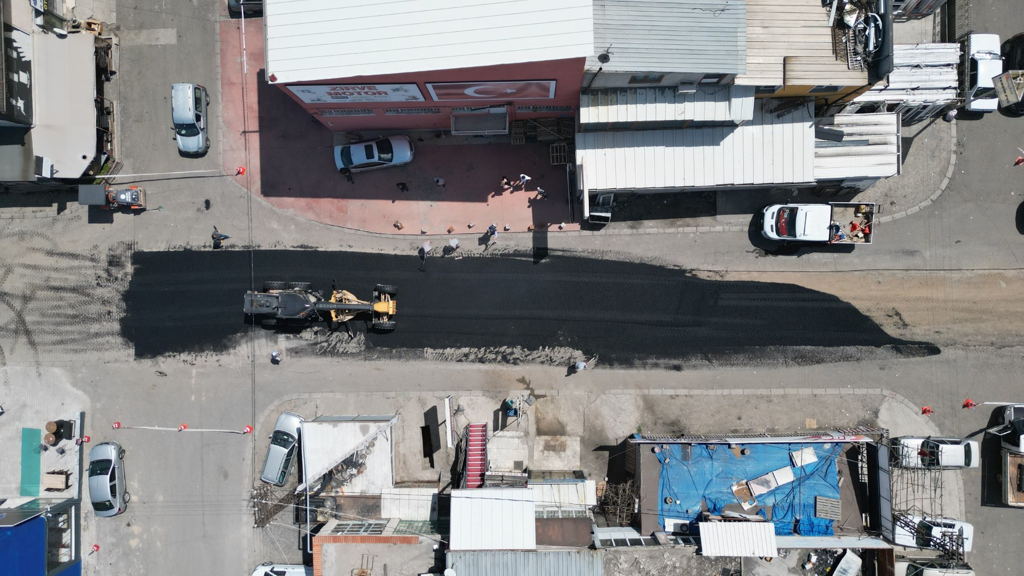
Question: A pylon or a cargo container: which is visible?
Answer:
pylon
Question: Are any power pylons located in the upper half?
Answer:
No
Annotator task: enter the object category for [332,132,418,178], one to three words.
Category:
car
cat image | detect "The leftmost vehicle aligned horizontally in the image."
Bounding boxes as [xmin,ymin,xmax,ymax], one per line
[78,185,149,210]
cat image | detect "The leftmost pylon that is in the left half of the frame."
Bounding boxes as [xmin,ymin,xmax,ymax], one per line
[255,477,312,530]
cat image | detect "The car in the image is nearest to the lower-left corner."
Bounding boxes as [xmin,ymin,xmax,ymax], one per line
[87,439,133,517]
